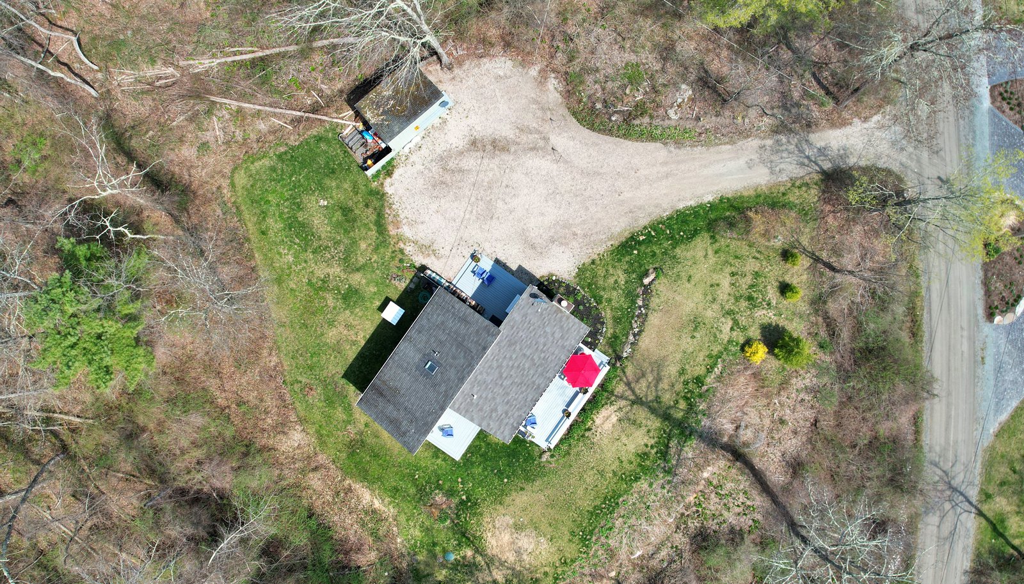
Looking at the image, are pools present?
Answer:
No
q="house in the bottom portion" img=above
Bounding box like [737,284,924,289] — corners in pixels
[355,284,591,453]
